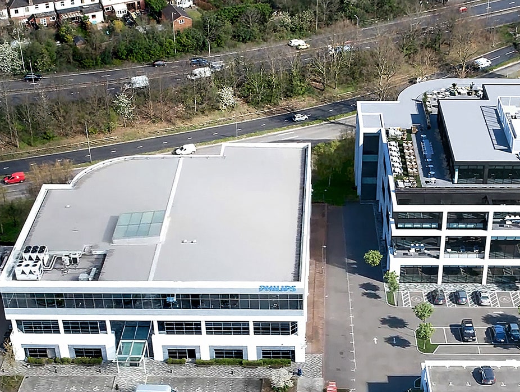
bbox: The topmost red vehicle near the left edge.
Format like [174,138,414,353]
[1,170,25,184]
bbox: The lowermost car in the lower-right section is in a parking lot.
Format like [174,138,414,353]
[478,364,495,386]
